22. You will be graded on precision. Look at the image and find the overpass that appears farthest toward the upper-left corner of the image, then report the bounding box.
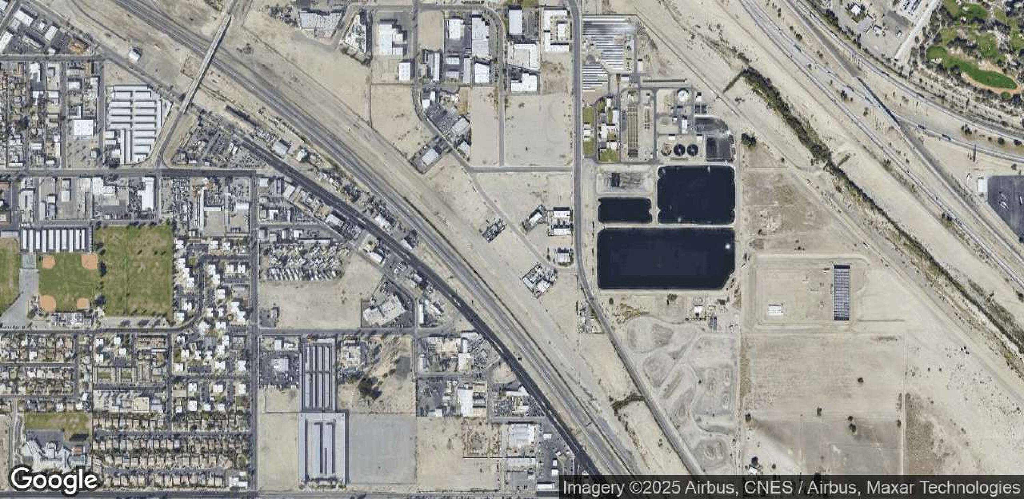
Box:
[156,0,245,169]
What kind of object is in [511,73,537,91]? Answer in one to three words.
building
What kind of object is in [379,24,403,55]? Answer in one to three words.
building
